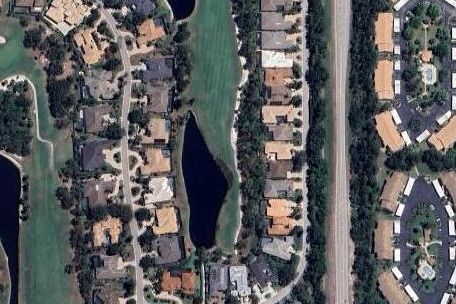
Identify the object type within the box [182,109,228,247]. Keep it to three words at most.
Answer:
pond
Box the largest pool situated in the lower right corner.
[418,263,435,280]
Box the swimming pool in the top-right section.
[422,65,435,84]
